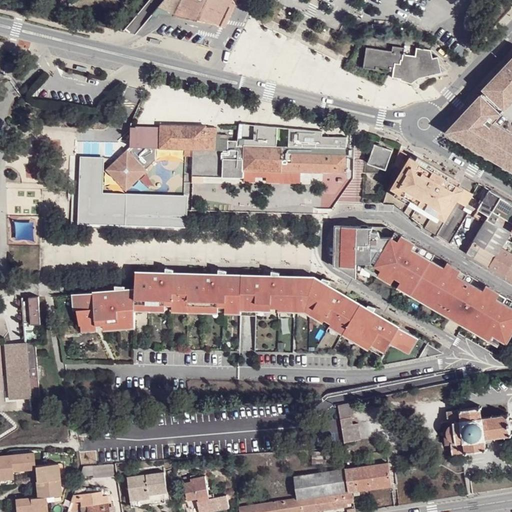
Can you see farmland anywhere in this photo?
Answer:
No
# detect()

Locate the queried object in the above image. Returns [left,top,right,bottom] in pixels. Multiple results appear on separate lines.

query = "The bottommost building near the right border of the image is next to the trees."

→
[445,408,512,455]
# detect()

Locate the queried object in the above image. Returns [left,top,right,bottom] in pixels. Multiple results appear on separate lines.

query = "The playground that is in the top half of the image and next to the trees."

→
[104,149,184,193]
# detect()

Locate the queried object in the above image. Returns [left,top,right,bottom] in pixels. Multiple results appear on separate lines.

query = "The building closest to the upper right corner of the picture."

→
[482,61,512,112]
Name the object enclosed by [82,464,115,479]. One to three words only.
shed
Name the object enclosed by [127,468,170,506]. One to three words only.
house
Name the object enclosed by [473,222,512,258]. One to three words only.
building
